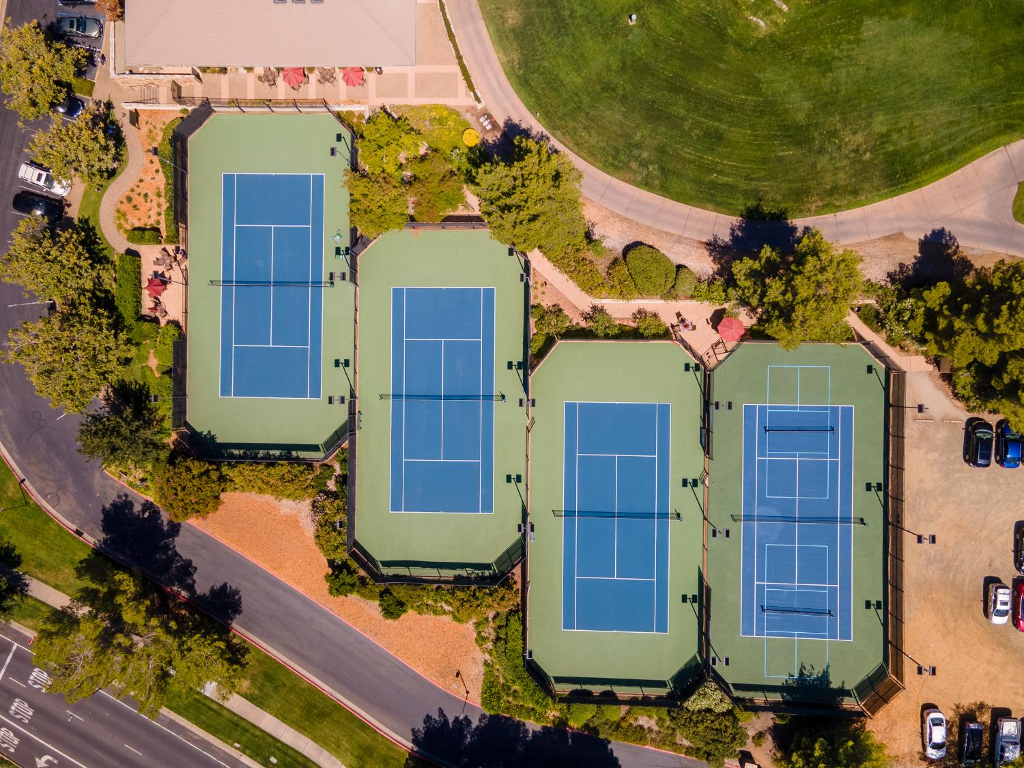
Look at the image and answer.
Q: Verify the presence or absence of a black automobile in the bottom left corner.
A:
No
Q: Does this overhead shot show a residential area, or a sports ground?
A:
sports ground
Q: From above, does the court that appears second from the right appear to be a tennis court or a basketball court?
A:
tennis court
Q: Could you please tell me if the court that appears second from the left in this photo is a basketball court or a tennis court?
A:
tennis court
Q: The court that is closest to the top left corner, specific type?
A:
tennis court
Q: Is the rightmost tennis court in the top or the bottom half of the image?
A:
bottom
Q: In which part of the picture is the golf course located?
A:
top right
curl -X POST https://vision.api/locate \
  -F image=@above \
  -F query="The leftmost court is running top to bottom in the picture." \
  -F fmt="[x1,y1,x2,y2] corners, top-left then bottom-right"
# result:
[185,113,355,460]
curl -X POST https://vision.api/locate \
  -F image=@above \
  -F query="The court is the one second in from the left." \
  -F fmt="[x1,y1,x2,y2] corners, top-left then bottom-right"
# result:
[355,229,529,576]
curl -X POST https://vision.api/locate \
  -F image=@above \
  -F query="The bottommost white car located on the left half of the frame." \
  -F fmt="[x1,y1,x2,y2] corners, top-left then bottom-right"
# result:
[18,165,73,196]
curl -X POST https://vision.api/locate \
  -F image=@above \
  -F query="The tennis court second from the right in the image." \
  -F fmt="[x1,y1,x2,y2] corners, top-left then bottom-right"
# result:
[527,341,705,694]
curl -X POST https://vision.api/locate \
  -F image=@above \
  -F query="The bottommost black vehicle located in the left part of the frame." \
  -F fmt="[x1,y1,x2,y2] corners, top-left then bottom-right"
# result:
[12,196,66,222]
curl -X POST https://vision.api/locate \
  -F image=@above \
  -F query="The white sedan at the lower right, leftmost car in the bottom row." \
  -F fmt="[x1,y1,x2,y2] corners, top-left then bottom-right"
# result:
[920,708,946,756]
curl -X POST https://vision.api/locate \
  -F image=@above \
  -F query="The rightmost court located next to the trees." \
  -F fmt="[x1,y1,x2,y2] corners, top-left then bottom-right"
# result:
[709,343,890,704]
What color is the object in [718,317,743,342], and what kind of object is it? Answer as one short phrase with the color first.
red umbrella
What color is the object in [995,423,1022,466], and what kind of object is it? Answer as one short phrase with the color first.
blue car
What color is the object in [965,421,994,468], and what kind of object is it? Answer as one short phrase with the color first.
black car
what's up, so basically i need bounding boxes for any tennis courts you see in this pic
[355,229,529,576]
[527,341,705,694]
[185,113,355,460]
[709,343,890,704]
